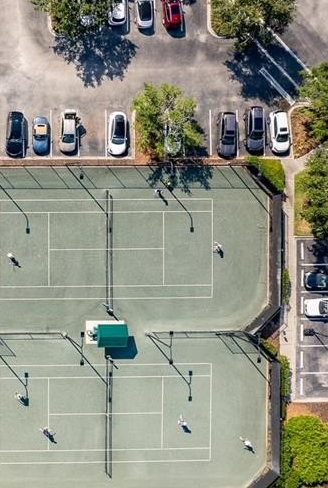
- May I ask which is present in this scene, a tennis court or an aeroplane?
tennis court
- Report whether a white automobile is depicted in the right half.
Yes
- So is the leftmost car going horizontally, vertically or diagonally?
vertically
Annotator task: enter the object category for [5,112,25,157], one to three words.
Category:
car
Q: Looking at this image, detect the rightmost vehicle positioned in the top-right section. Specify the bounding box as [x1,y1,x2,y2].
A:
[266,112,291,154]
